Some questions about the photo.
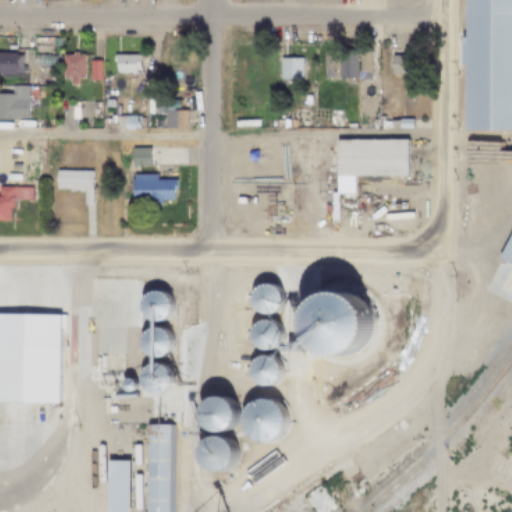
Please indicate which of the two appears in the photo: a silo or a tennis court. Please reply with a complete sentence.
This aerial view contains a silo.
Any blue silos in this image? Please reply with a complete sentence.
No, no blue silo is visible in the scene.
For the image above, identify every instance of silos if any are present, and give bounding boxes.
[292,287,374,360]
[250,317,288,351]
[140,360,178,394]
[195,433,241,473]
[140,289,178,323]
[196,394,242,434]
[140,324,178,358]
[251,281,289,316]
[250,353,288,388]
[240,397,290,442]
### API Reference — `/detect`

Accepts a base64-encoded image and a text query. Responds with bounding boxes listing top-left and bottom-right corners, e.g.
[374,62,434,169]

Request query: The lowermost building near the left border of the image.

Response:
[0,314,66,403]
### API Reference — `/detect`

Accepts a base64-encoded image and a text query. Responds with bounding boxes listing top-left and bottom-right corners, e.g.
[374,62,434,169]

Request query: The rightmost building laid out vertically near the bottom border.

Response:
[150,424,178,512]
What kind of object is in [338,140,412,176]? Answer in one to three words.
building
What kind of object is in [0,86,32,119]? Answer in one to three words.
building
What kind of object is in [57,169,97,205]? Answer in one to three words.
house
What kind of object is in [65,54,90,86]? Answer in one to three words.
house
